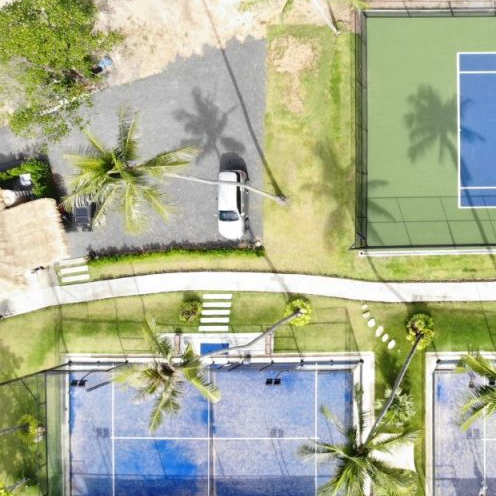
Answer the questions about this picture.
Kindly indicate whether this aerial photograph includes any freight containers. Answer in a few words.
No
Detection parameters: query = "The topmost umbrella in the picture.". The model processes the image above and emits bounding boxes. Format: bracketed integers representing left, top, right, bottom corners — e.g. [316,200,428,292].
[0,187,26,207]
